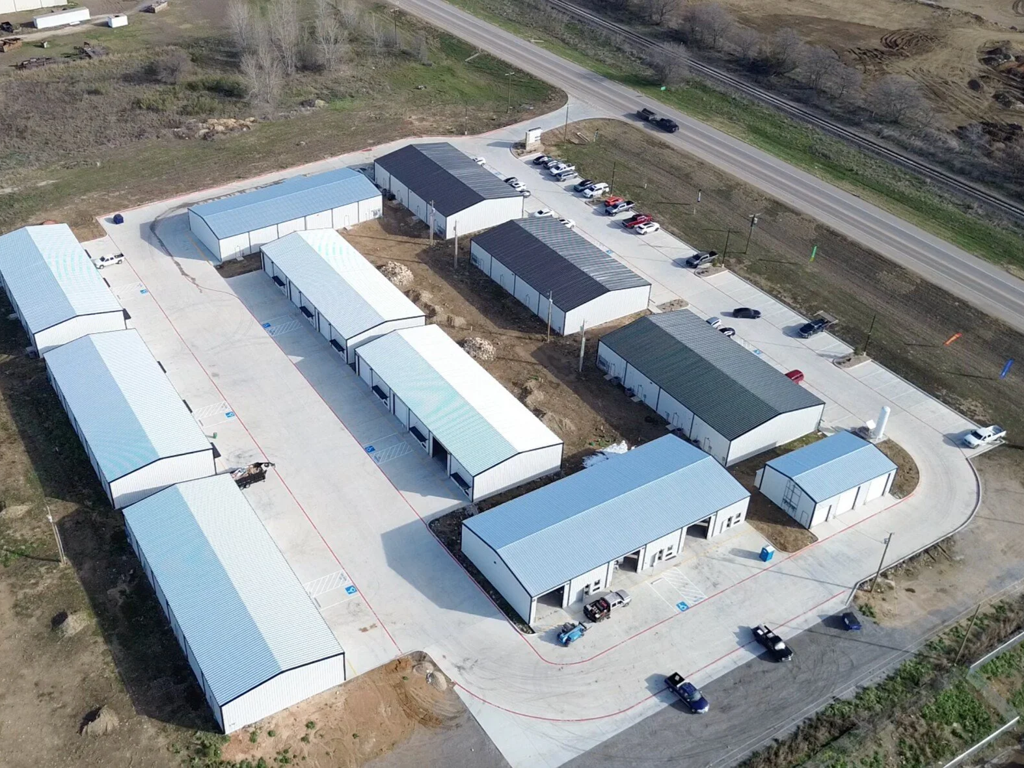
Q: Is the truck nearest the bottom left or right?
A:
right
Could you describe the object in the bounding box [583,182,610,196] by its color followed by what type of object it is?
white vehicle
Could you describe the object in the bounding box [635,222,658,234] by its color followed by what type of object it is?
white vehicle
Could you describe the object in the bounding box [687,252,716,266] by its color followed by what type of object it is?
gray vehicle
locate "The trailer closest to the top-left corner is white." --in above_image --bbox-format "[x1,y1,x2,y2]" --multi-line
[31,4,90,27]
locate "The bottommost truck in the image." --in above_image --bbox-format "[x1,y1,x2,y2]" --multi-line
[665,674,710,715]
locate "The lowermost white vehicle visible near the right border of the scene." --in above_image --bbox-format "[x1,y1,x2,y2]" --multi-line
[965,425,1001,445]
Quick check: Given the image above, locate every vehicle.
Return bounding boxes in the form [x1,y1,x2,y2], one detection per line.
[543,158,563,170]
[687,252,716,266]
[665,674,710,715]
[803,317,833,334]
[503,176,522,185]
[510,180,529,190]
[733,306,760,320]
[519,188,536,197]
[705,316,726,327]
[751,626,796,664]
[603,195,624,206]
[560,216,577,226]
[606,201,633,214]
[654,120,679,130]
[635,222,658,234]
[473,156,490,164]
[574,178,595,191]
[622,215,650,228]
[785,370,808,382]
[557,169,578,181]
[965,425,1001,445]
[532,154,552,166]
[555,618,595,648]
[94,253,126,269]
[549,163,575,175]
[582,593,630,619]
[721,326,740,336]
[583,182,610,196]
[533,208,555,217]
